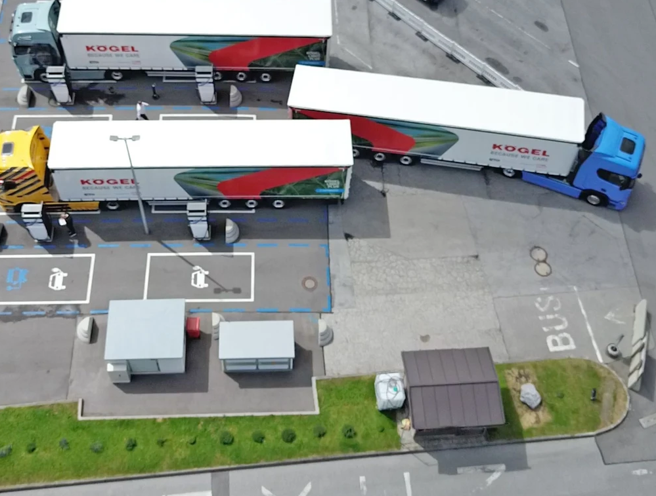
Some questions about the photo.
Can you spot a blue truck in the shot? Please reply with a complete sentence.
Yes, the image includes a blue truck.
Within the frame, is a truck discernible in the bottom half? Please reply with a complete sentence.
No, in the bottom half there is no truck.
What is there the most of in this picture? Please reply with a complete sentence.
The bulk of the photo consists of paved ground.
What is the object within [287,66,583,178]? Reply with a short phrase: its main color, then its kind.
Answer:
white trailer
